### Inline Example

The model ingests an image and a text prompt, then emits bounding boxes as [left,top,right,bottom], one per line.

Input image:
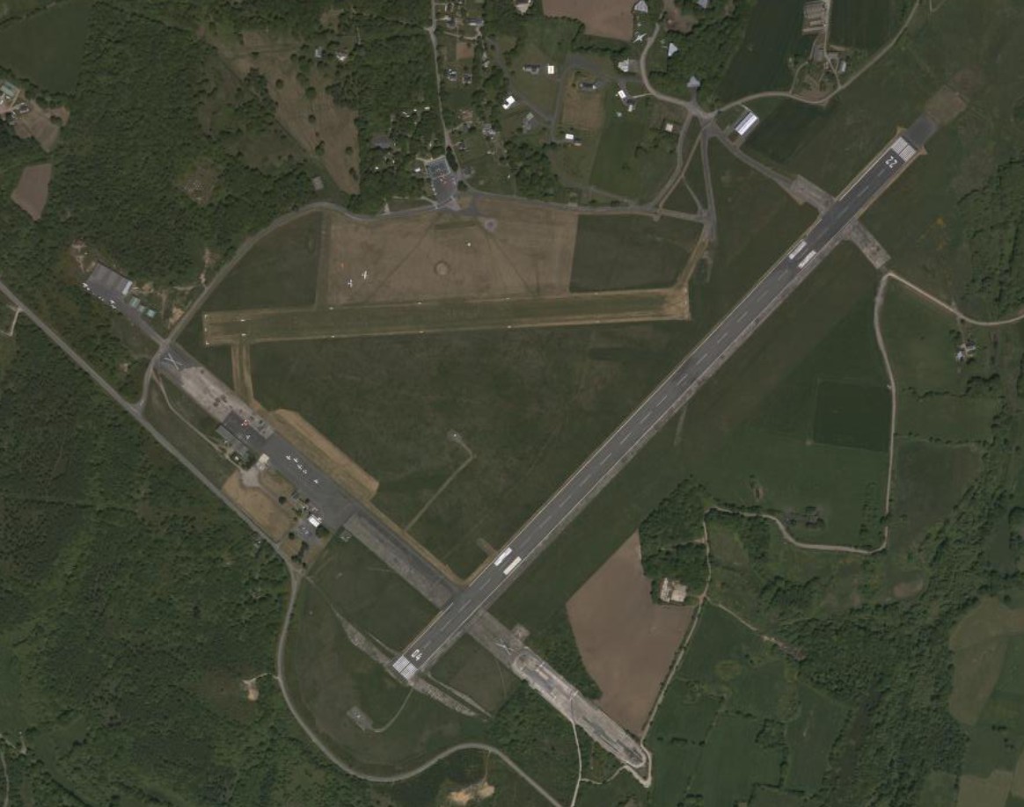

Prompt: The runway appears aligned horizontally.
[203,287,691,345]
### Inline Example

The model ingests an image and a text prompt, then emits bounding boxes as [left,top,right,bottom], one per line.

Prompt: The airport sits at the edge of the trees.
[85,79,967,770]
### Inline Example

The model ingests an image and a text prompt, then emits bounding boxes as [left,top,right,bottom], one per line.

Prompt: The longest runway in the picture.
[391,136,917,681]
